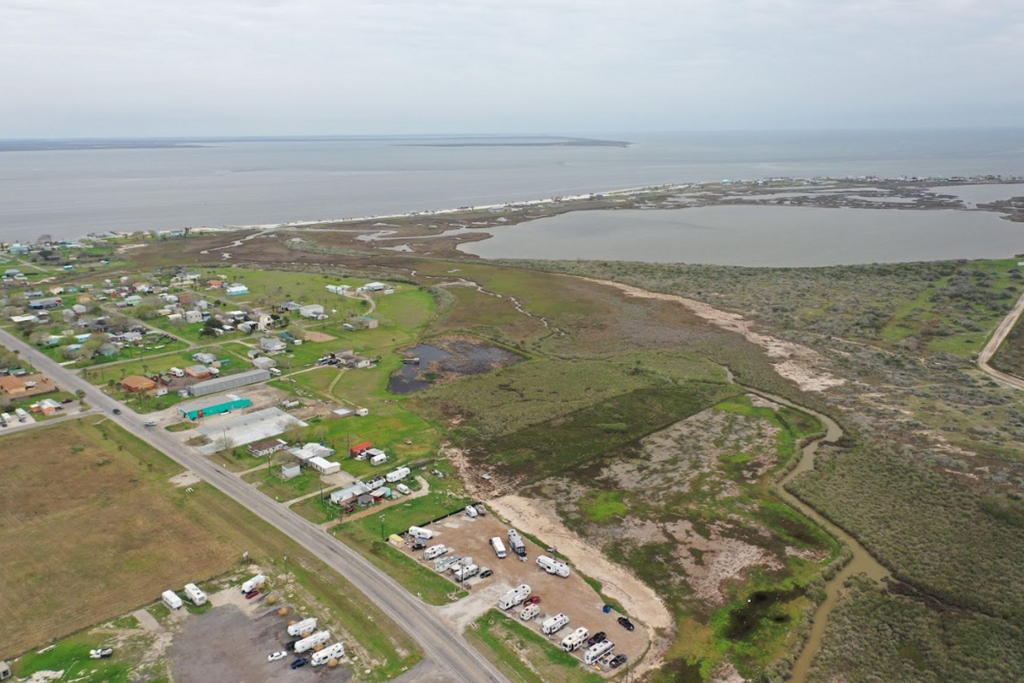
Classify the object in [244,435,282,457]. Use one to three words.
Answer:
house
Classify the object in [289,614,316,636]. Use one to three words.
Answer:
vehicle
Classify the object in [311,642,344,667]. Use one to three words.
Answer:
camper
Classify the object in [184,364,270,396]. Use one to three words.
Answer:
building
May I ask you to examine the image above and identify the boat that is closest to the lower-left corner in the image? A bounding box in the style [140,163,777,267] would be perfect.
[31,642,59,655]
